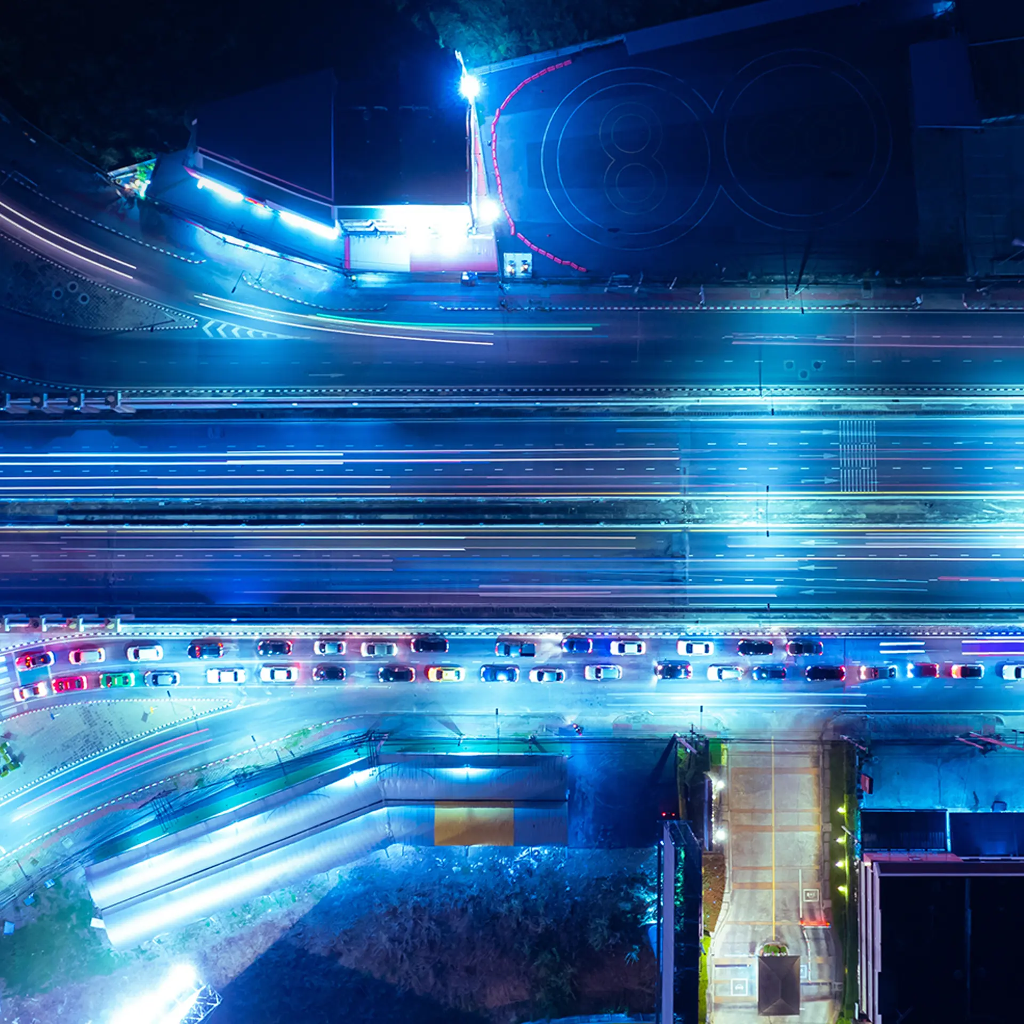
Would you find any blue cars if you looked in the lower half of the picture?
Yes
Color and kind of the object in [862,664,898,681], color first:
blue car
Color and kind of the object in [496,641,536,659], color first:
blue vehicle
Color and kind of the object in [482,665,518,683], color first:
blue car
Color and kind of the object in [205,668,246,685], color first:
white vehicle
